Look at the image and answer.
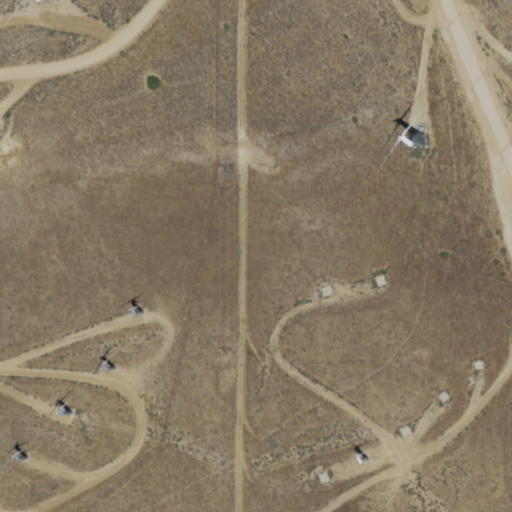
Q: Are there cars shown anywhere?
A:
No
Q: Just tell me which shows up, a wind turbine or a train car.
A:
wind turbine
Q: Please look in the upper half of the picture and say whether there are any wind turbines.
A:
Yes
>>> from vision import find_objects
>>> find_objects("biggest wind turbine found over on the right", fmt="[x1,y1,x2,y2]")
[384,107,428,158]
